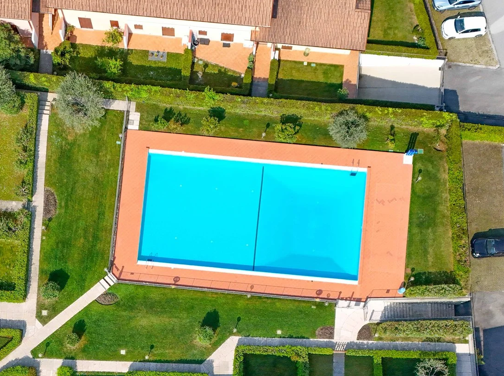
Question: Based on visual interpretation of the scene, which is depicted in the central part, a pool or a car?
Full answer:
There is a pool in the central part.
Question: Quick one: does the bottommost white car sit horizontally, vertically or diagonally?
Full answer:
I'd say the bottommost white car is aligned horizontally in the picture.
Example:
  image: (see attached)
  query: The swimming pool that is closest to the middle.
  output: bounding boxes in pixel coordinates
[135,147,369,287]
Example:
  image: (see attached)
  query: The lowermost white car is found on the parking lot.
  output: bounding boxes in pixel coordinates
[440,16,489,42]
